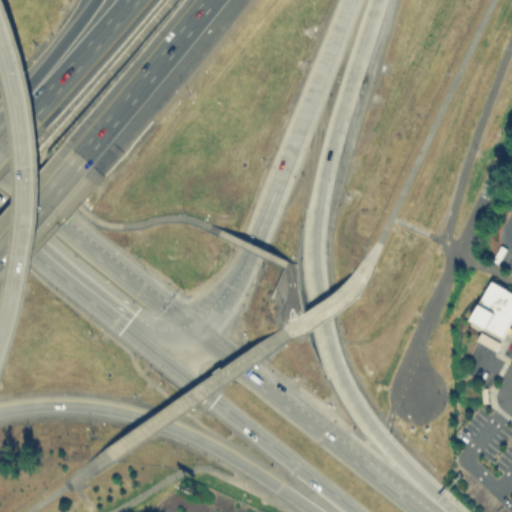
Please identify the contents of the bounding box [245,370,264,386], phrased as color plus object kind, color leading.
white vehicle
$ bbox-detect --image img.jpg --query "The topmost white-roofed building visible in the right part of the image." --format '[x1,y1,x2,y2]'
[468,280,512,342]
